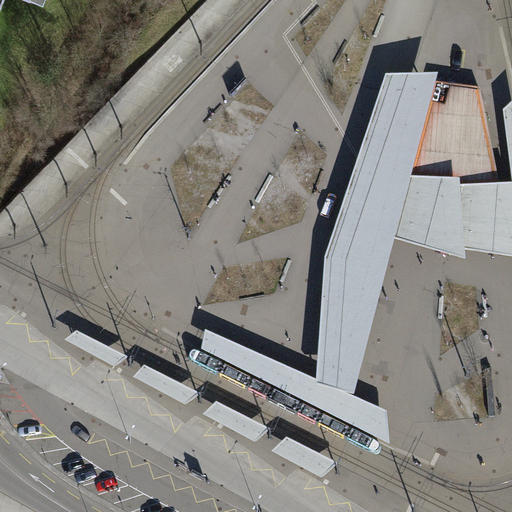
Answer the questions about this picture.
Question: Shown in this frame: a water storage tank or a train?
train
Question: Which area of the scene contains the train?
bottom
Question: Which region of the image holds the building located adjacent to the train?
right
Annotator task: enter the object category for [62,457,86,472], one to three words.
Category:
car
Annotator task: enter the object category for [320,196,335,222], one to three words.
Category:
vehicle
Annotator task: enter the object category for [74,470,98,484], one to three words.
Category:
car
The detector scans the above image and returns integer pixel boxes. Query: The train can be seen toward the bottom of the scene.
[188,350,382,455]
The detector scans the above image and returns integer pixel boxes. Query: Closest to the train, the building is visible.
[317,72,438,394]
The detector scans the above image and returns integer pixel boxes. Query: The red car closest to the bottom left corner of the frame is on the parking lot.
[94,480,118,495]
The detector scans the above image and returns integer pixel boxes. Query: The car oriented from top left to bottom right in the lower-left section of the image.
[69,424,92,444]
